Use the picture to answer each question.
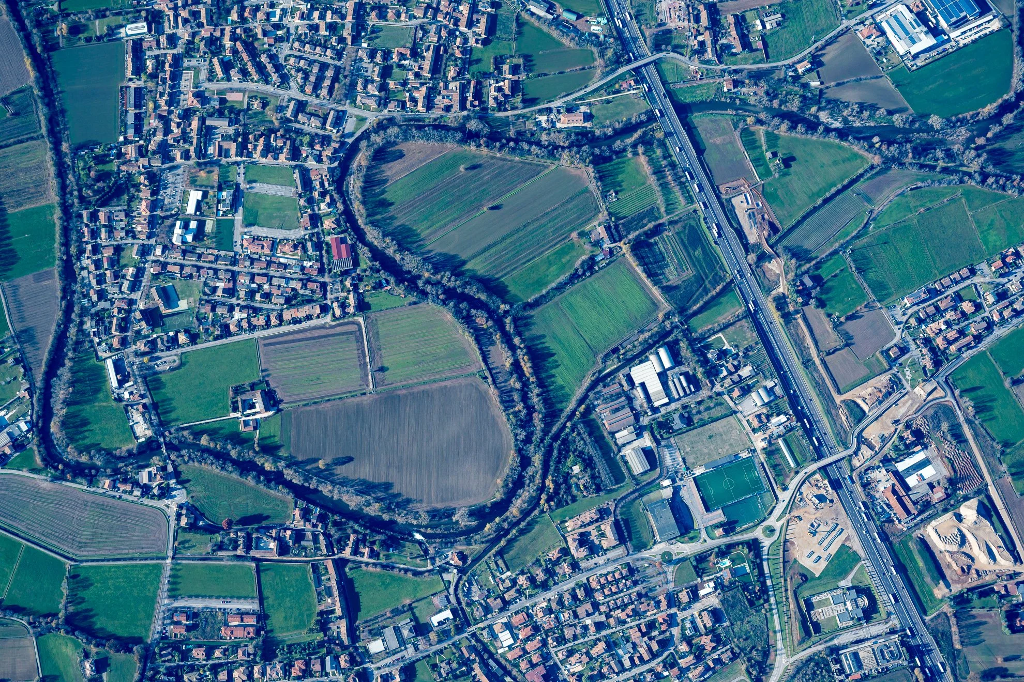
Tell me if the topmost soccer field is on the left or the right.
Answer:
right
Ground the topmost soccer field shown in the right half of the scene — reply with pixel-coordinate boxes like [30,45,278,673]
[672,417,753,471]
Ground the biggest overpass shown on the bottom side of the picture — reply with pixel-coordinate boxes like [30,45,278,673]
[787,379,922,493]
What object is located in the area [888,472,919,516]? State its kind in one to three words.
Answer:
shed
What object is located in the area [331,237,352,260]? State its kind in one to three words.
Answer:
building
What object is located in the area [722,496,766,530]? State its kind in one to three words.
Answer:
soccer field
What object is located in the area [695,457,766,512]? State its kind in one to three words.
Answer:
soccer field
